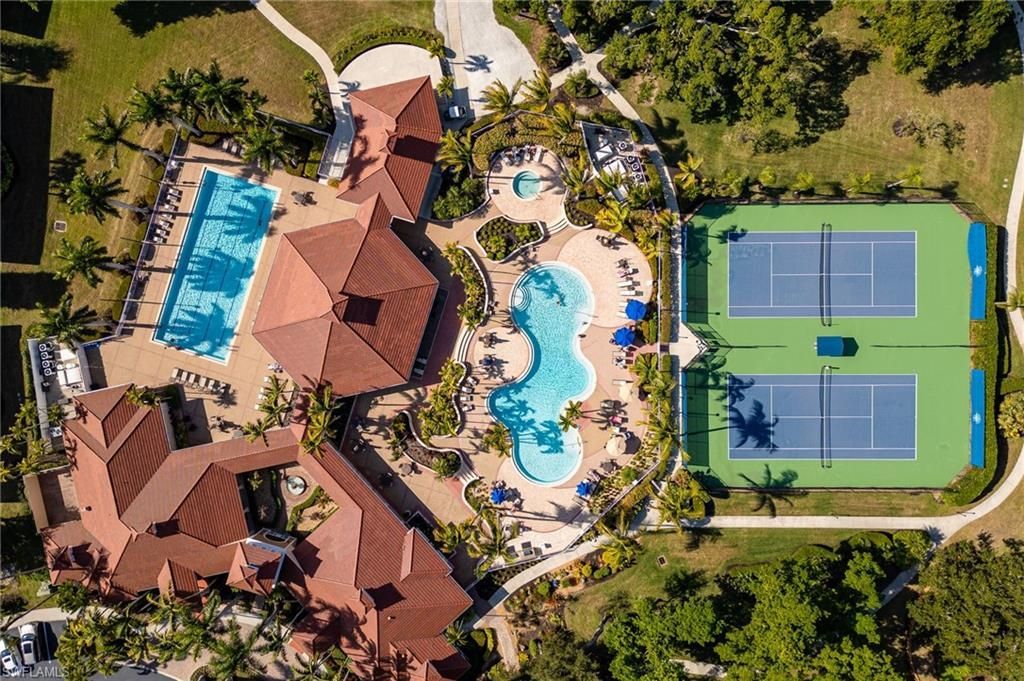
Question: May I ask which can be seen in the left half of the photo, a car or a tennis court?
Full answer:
It is a car that can be seen in the left half of the photo.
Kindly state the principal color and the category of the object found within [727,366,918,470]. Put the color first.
blue tennis court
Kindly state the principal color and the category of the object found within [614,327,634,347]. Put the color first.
blue umbrella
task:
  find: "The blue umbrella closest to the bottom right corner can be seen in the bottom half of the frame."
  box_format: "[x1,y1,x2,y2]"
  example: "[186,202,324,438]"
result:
[575,481,590,496]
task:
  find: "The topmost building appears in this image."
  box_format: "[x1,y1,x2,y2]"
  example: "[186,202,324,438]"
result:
[336,74,442,232]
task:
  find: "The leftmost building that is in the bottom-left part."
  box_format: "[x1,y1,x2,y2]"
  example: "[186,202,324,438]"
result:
[39,383,473,681]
